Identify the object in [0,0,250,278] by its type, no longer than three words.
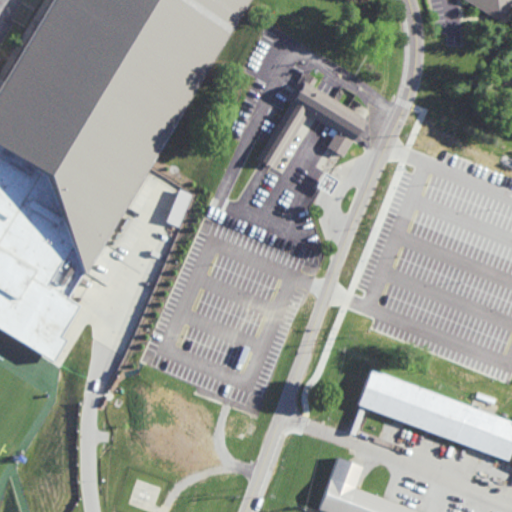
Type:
building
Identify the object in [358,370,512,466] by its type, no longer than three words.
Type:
building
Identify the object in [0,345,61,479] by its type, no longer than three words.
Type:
sports field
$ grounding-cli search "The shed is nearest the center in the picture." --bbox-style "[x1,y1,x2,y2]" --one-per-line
[166,189,194,231]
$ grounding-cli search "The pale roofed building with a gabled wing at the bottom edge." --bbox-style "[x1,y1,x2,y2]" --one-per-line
[318,458,412,512]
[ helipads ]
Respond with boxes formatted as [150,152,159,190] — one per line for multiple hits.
[129,478,161,512]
